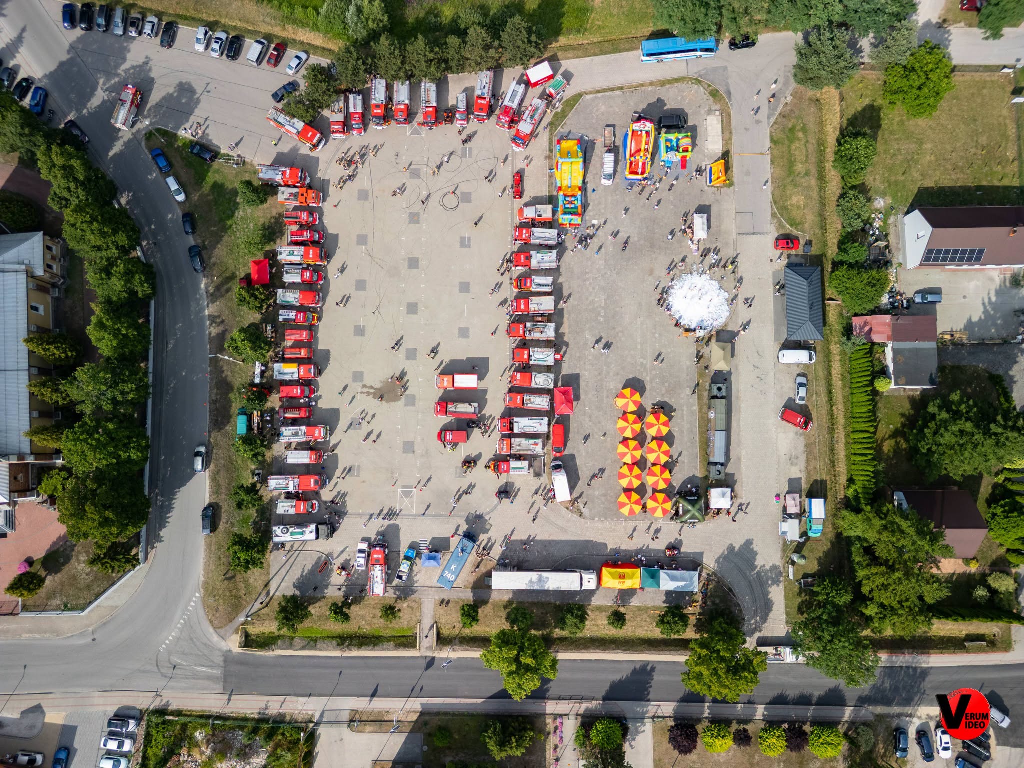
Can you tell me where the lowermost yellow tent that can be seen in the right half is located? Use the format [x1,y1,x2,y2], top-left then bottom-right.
[596,557,641,591]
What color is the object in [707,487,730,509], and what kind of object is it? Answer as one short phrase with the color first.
white tent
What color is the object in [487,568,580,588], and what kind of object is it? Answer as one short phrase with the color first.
white trailer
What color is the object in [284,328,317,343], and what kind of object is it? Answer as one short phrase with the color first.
red vehicle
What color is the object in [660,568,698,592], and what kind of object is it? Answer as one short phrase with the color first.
white tent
